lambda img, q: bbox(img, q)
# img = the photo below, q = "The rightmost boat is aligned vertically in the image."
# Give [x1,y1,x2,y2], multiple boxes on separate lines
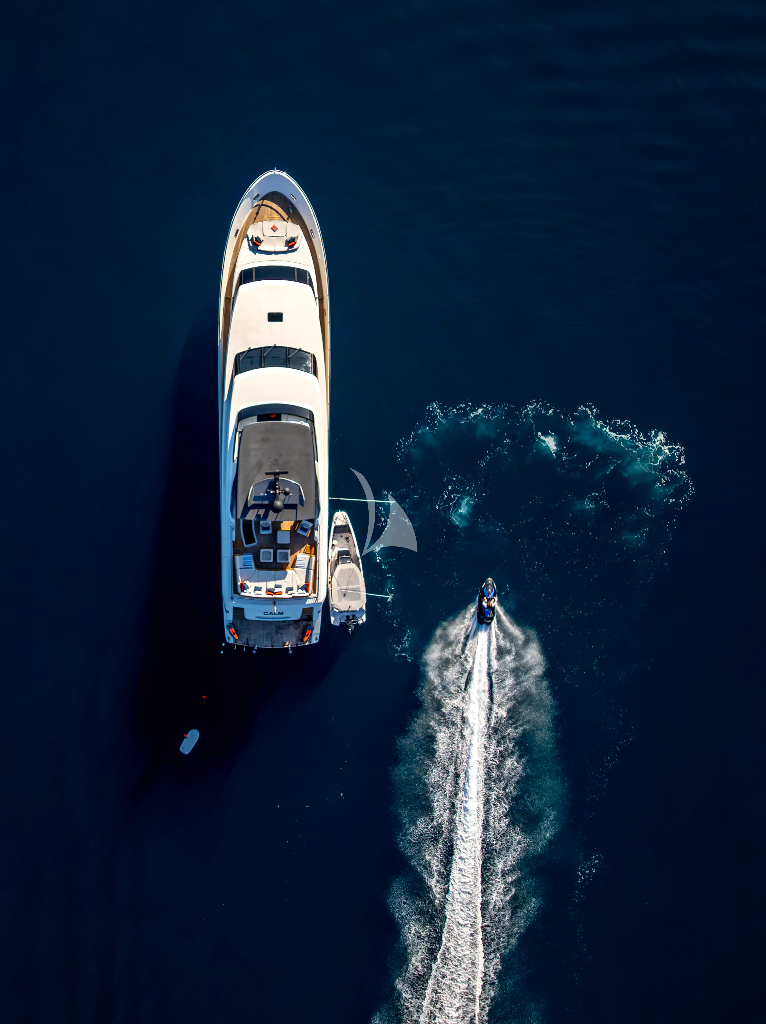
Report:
[477,577,496,625]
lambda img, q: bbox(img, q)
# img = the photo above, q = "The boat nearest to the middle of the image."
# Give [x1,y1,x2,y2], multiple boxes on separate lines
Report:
[330,511,366,636]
